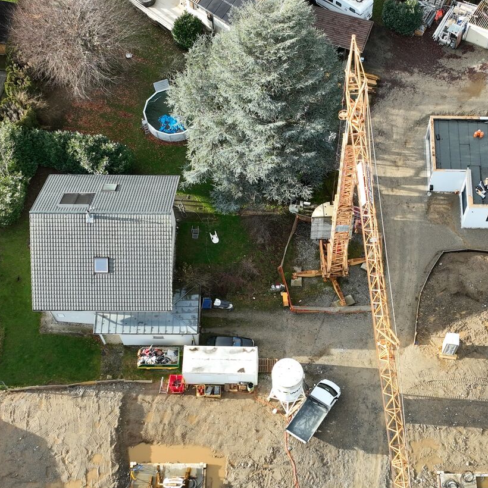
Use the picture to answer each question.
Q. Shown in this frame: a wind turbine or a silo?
silo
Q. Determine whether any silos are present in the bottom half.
Yes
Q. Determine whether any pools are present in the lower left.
No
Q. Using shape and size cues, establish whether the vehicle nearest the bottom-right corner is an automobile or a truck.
truck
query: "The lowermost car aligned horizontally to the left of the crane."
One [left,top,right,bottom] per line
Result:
[206,325,256,346]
